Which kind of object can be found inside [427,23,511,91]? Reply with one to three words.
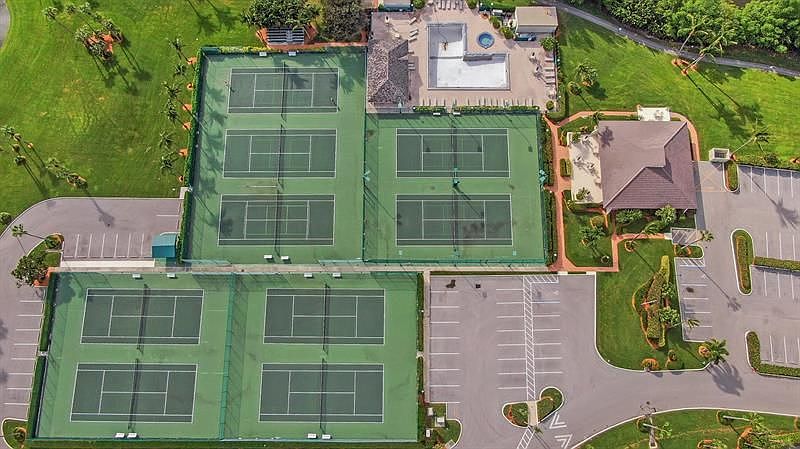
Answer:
swimming pool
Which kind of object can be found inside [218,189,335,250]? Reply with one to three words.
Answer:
tennis court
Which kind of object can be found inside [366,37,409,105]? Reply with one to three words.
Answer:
shed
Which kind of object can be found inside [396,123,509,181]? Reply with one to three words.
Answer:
tennis court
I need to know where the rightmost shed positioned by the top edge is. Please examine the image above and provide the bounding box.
[514,6,559,32]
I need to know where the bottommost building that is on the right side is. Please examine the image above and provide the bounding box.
[598,120,697,217]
